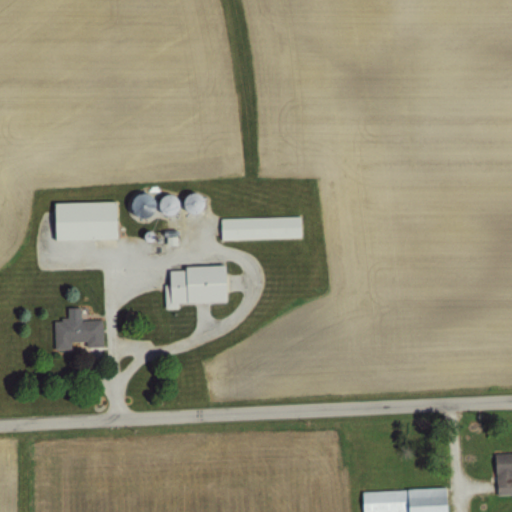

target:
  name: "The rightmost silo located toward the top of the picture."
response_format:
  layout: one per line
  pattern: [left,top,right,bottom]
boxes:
[184,193,207,216]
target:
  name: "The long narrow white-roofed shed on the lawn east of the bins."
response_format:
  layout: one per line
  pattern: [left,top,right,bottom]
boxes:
[222,217,303,242]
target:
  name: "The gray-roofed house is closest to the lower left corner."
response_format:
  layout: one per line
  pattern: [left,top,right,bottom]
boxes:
[55,308,104,351]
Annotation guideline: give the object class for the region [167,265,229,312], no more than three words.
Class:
building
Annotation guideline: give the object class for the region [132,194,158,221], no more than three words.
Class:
silo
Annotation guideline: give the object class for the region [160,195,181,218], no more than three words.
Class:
silo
